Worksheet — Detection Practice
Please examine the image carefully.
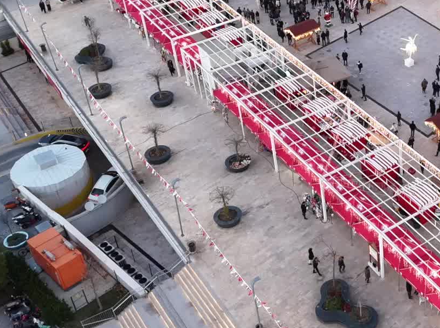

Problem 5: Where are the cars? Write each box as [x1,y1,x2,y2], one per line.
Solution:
[91,166,122,203]
[34,125,88,151]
